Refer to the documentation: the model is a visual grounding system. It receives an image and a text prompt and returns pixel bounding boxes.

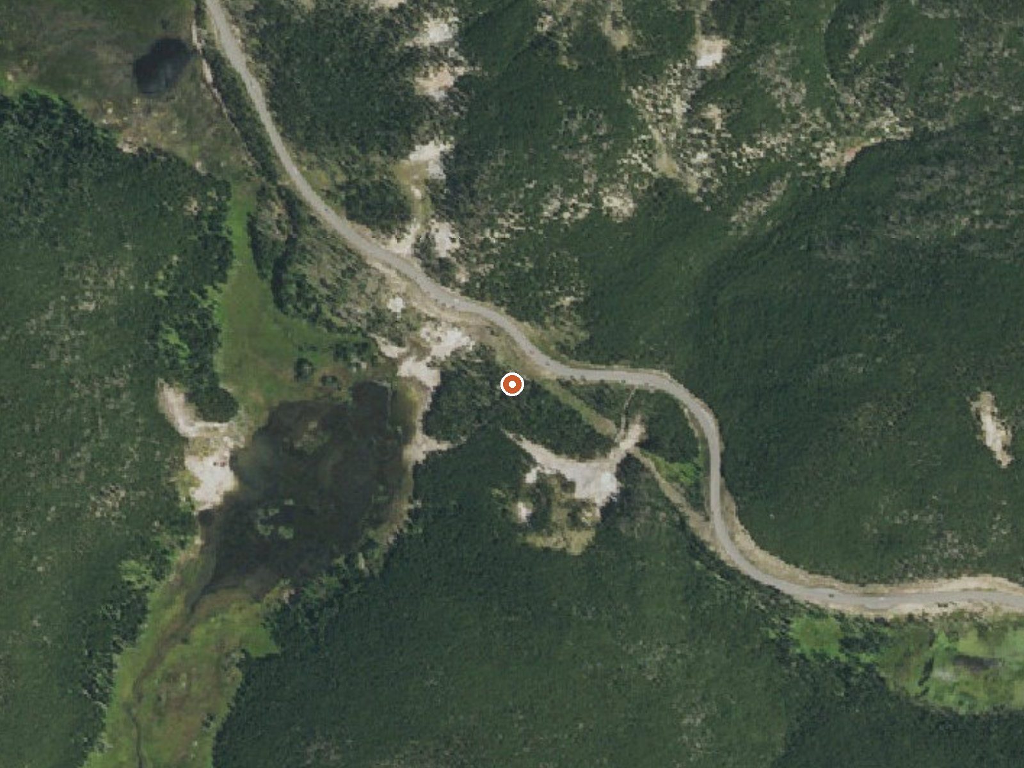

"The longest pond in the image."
[188,381,416,612]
